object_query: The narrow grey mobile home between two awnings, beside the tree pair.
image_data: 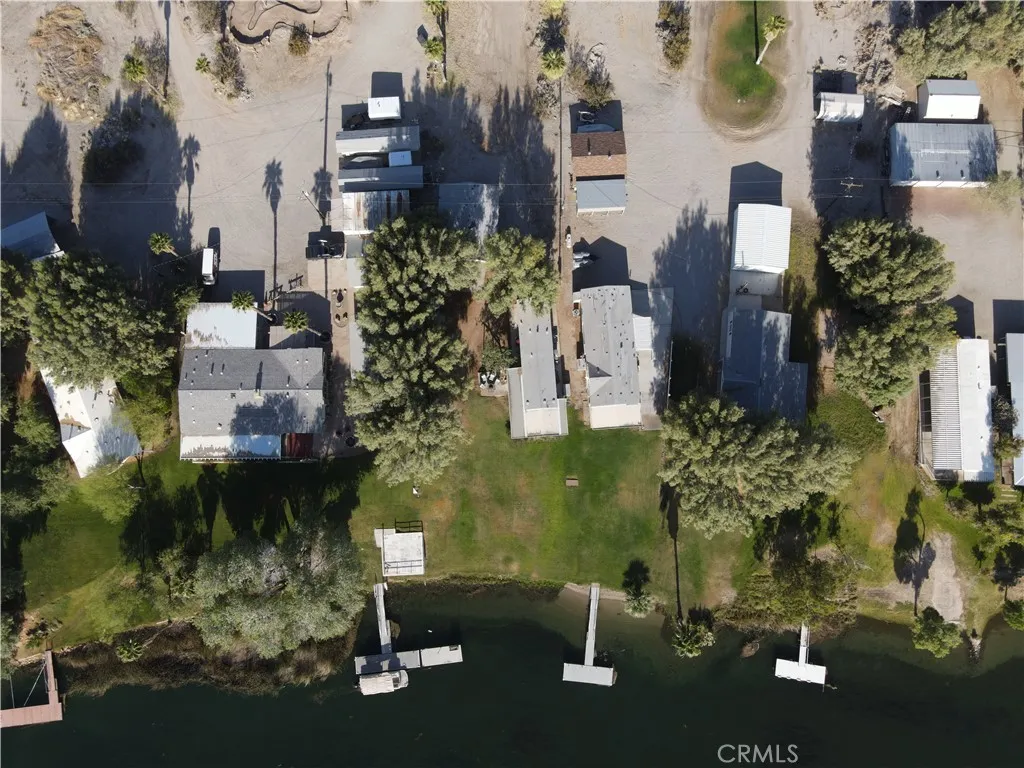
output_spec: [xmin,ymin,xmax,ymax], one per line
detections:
[507,301,568,438]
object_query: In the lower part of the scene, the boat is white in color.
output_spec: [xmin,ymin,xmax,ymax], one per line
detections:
[358,671,411,700]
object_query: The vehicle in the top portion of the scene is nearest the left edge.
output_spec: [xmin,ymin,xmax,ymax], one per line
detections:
[200,248,219,285]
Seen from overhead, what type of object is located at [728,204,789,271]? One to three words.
building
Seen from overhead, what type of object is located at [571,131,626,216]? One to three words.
shed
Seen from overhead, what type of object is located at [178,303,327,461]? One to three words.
house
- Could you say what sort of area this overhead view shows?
residential area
